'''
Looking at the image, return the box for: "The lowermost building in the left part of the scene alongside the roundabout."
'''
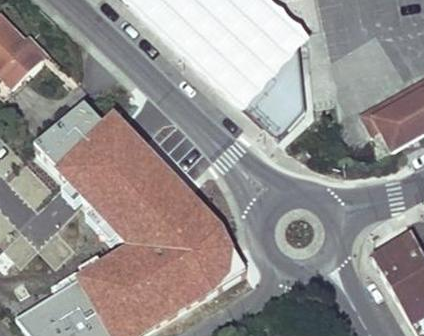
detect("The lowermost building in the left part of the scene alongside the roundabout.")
[16,98,247,336]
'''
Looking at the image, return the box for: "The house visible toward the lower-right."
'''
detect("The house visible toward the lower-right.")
[372,228,424,326]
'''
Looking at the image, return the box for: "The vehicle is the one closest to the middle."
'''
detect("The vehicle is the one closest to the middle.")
[181,150,200,168]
